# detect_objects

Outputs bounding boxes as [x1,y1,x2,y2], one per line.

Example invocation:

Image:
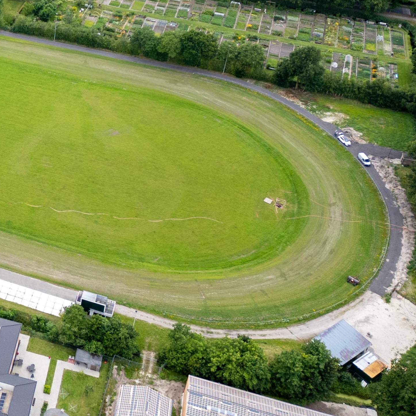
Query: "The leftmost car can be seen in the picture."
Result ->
[335,131,352,148]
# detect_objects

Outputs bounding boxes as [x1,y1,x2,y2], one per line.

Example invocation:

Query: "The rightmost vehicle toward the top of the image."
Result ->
[356,148,371,167]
